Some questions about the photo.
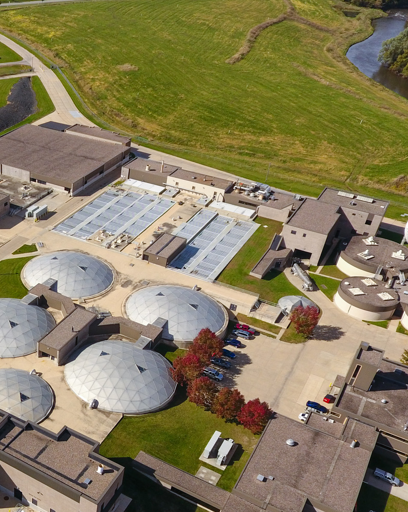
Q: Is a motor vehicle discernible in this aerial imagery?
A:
Yes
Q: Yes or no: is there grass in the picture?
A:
Yes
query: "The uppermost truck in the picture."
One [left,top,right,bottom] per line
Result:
[292,256,313,288]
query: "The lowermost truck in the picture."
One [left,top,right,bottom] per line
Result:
[372,466,403,487]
